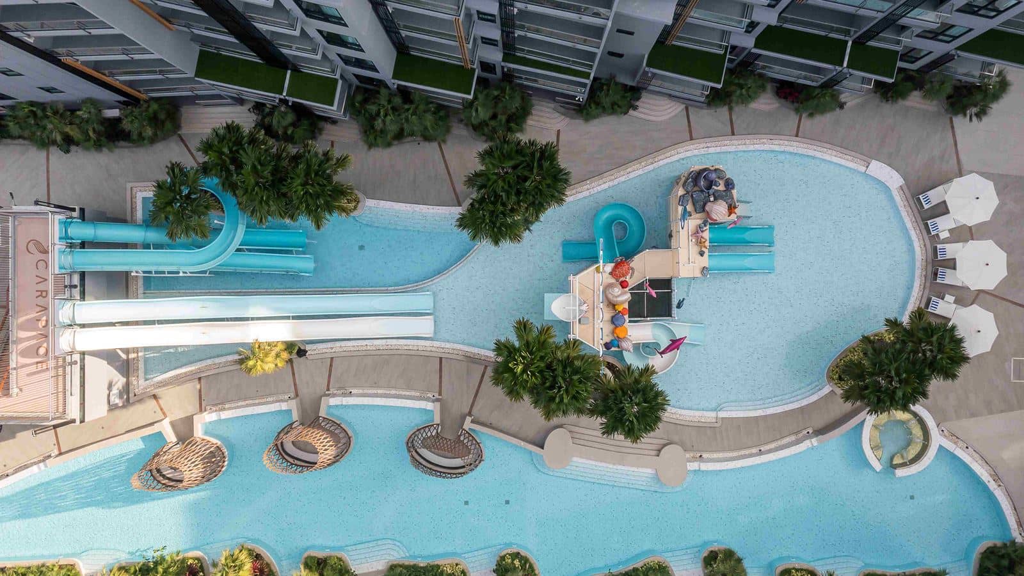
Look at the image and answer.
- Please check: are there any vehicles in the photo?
No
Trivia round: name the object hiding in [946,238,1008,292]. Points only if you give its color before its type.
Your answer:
white umbrella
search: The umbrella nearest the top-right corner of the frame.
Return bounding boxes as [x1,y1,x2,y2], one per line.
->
[937,171,1000,227]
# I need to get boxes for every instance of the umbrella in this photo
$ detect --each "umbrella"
[937,171,1000,227]
[948,302,1000,360]
[946,238,1008,292]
